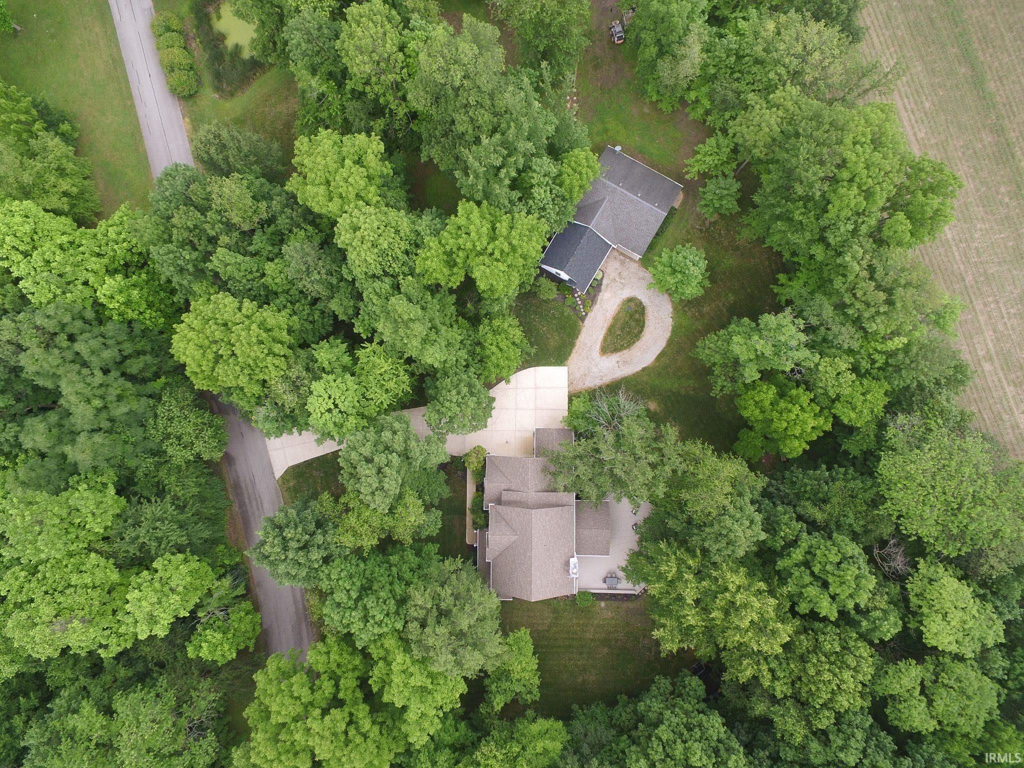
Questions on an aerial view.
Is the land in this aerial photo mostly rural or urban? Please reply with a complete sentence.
The land in this view is best described as rural.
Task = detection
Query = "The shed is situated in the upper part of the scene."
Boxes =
[541,144,684,294]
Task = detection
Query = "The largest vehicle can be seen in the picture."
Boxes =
[609,22,626,46]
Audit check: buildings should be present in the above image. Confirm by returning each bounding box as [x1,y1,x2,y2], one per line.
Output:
[541,144,684,294]
[476,427,612,602]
